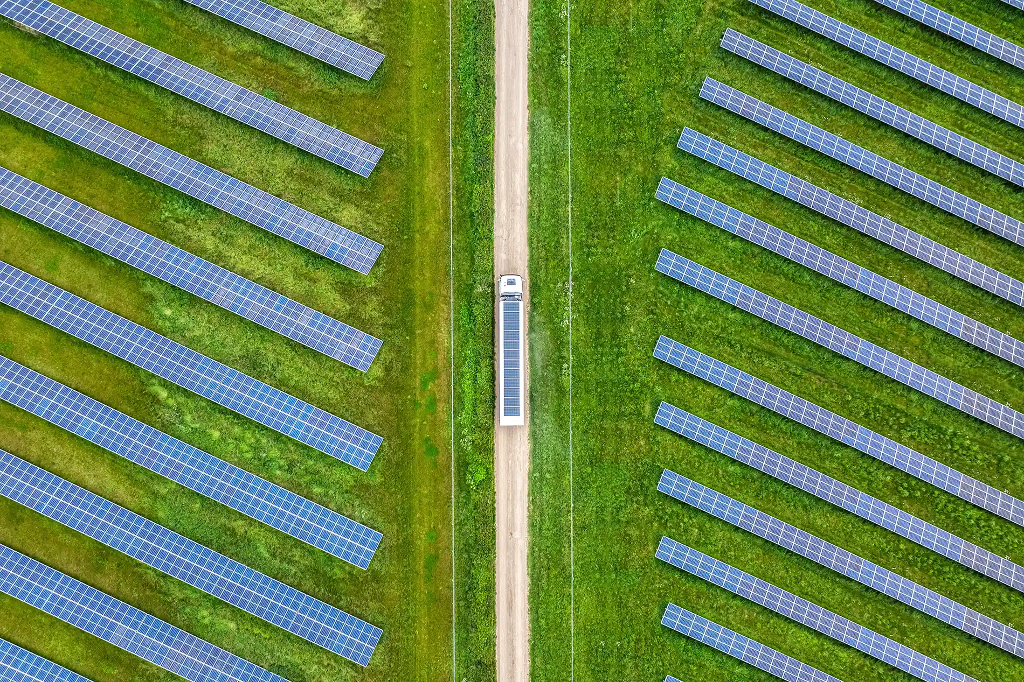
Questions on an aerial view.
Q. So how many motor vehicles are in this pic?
1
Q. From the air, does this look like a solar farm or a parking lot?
solar farm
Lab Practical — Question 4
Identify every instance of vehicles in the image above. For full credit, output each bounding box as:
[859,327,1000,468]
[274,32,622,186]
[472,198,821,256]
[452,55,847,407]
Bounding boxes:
[497,273,525,427]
